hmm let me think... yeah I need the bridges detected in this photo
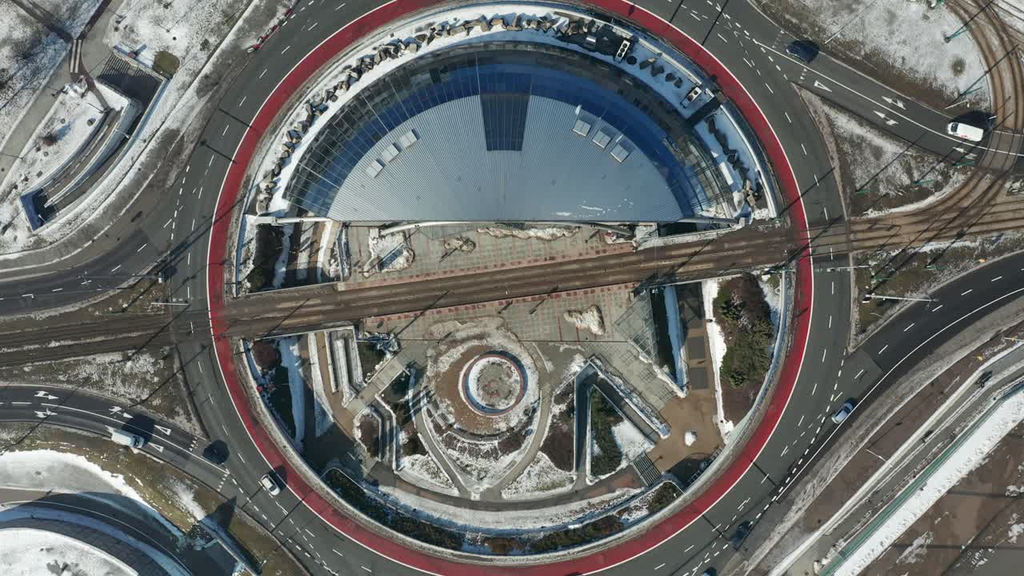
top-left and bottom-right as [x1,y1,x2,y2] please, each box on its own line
[227,228,800,338]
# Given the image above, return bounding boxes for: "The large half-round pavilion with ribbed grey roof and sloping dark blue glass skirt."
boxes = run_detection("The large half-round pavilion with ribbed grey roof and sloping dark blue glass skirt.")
[252,41,746,244]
